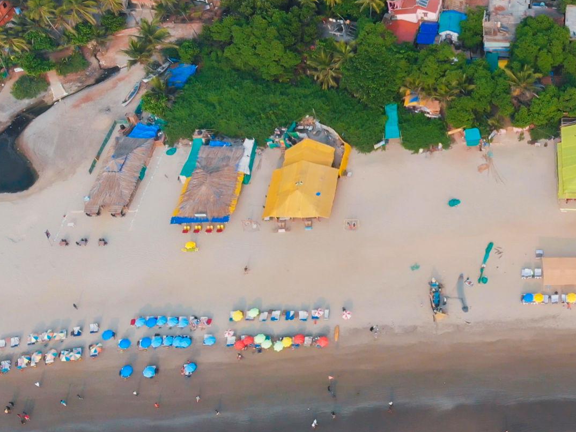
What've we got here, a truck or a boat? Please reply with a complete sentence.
This aerial view contains a boat.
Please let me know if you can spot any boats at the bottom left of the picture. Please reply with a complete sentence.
No, there is no boat at the bottom left of the picture.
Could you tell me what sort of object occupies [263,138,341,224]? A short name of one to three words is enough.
tent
